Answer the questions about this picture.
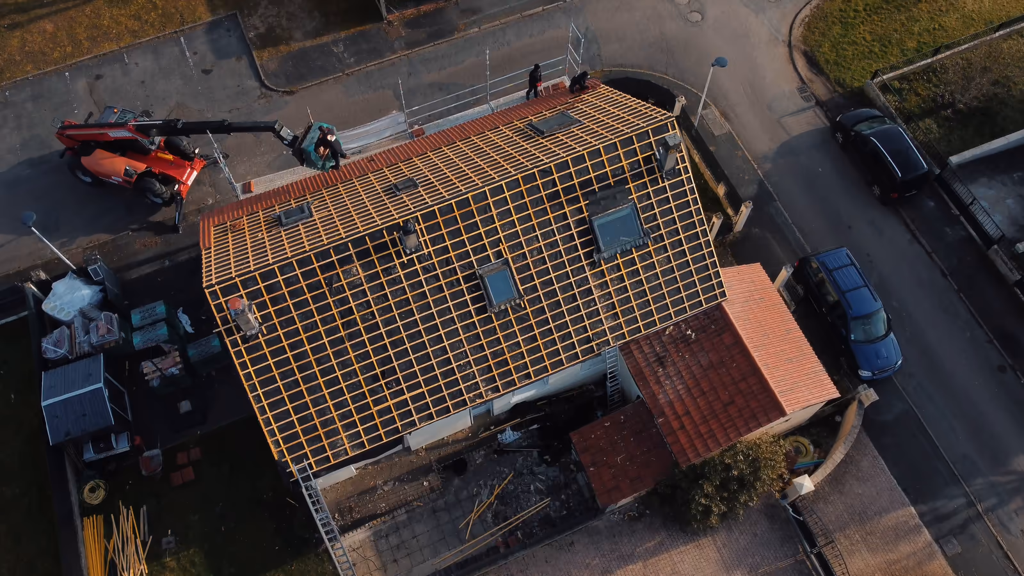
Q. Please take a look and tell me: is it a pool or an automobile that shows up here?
automobile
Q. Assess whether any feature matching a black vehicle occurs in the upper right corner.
Yes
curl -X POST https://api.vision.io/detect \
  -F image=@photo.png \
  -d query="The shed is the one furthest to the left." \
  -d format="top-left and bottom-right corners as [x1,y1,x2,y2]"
[40,352,132,452]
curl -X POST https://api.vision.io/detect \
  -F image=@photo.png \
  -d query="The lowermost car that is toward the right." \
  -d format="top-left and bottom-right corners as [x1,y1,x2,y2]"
[794,246,905,380]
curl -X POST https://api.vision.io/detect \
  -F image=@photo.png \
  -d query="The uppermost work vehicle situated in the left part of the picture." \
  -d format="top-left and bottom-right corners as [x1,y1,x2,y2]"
[54,97,355,231]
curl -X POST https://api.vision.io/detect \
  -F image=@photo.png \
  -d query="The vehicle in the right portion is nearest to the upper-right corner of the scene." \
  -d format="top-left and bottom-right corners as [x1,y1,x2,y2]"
[832,99,939,206]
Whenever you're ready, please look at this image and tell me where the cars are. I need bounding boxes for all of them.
[832,99,939,206]
[794,246,905,380]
